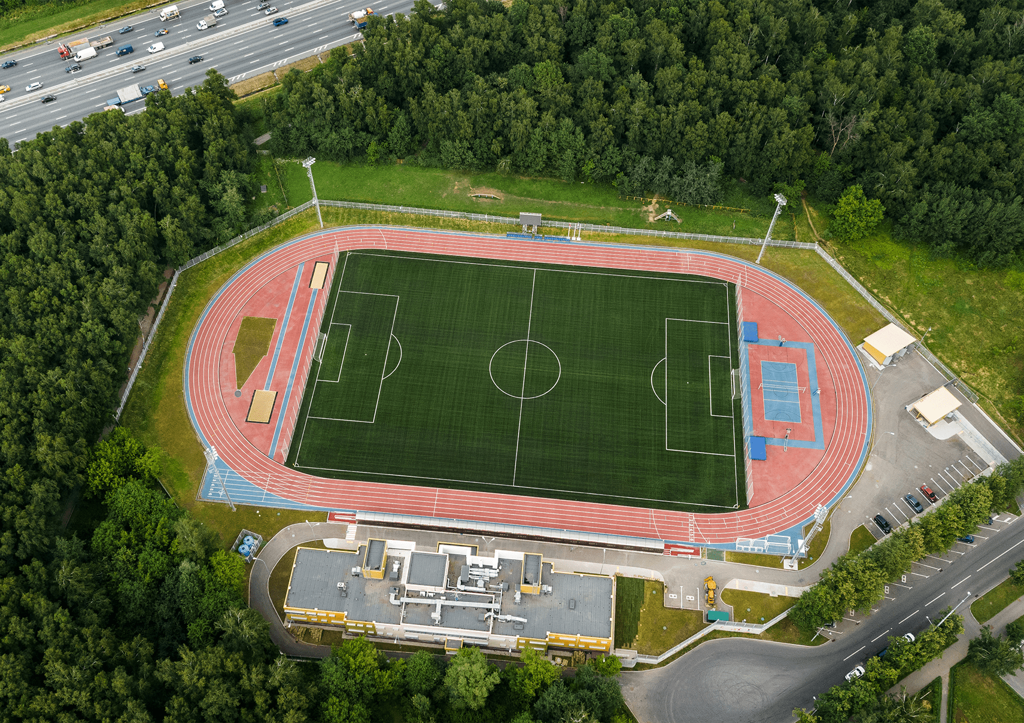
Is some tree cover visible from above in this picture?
Yes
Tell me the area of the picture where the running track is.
center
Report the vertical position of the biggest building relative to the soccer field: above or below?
below it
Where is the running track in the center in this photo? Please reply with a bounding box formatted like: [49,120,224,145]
[181,224,874,558]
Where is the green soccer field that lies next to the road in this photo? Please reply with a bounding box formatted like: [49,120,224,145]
[284,249,748,513]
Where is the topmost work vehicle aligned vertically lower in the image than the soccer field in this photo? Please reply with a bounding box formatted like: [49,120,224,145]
[705,576,719,610]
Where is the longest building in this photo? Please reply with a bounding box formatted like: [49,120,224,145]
[283,538,614,662]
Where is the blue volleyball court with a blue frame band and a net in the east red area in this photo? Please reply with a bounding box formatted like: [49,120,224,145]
[739,336,825,450]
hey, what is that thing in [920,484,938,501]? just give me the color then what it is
red car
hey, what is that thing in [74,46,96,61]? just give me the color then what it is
white vehicle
